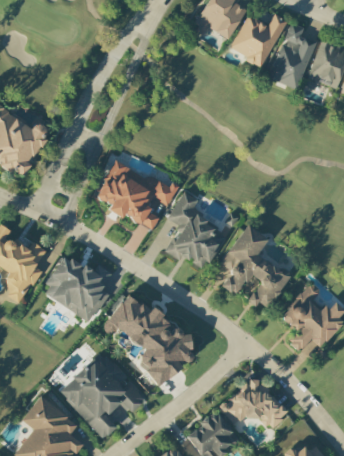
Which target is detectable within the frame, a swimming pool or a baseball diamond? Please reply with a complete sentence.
Visible in the photo is a swimming pool.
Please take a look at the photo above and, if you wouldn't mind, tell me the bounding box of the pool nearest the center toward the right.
[206,200,227,221]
